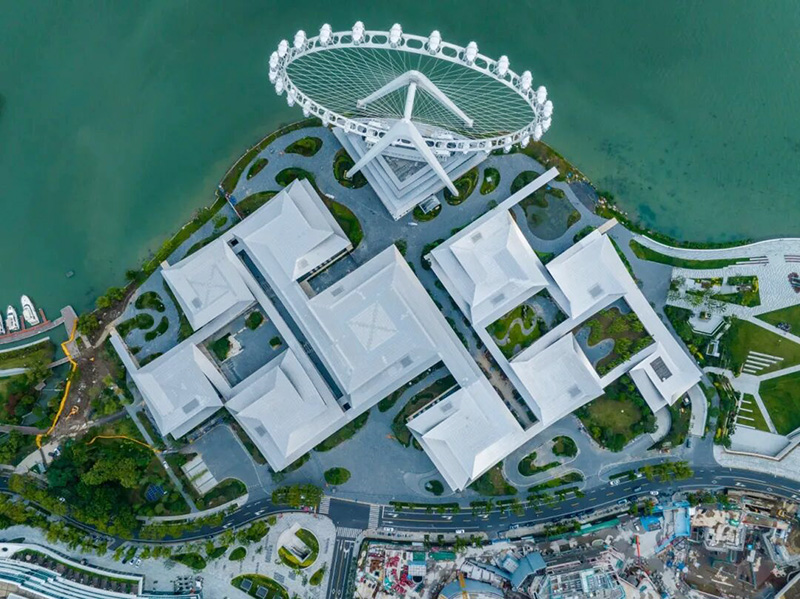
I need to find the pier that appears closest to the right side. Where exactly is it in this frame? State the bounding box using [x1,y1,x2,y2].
[60,305,82,362]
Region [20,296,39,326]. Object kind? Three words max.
boat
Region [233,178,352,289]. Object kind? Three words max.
building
